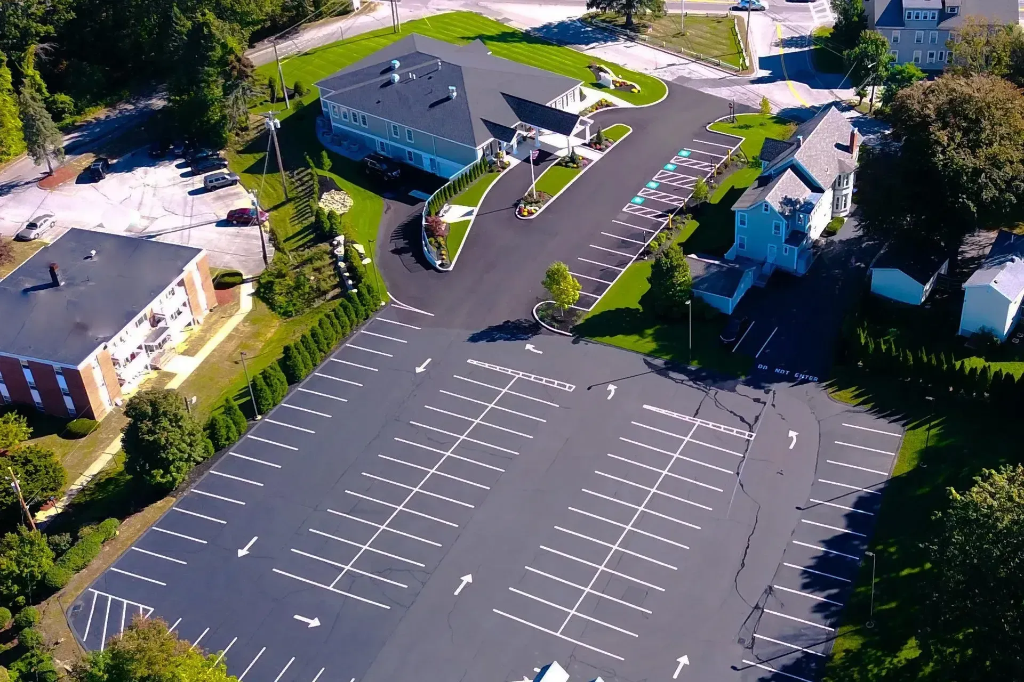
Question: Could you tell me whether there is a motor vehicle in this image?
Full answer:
Yes, I can see a motor vehicle in this picture.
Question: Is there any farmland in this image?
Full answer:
No, farmland can't be seen anywhere here.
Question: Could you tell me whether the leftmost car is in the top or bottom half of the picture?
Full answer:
Seen from above, the leftmost car lies in the top half of the view.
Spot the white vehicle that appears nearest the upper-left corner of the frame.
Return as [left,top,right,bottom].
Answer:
[17,213,54,236]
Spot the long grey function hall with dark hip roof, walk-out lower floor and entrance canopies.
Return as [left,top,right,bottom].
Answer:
[314,32,592,177]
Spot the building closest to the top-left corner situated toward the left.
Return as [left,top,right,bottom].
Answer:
[0,228,217,421]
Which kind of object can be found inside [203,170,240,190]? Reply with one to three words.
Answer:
car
